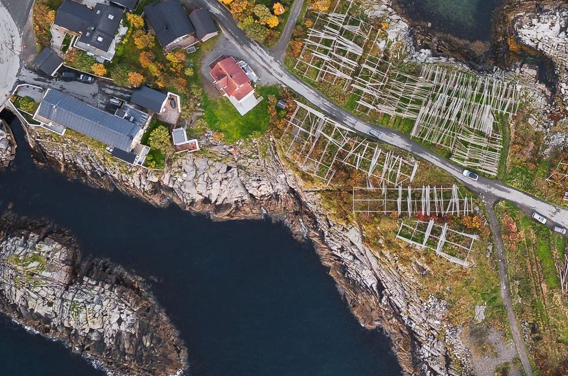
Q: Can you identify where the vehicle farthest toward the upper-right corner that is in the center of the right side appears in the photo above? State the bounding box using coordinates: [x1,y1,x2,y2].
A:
[461,169,480,182]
